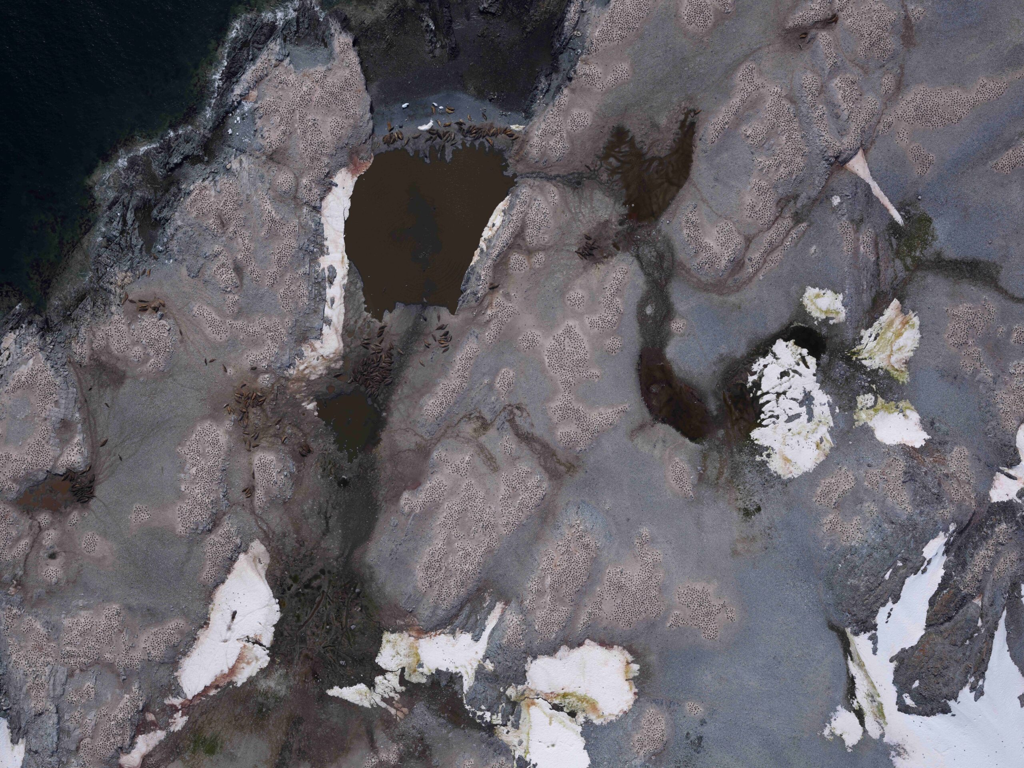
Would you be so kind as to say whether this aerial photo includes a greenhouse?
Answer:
No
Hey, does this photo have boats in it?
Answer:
No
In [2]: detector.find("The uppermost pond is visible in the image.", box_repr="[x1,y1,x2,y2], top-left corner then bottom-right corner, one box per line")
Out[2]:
[608,114,694,220]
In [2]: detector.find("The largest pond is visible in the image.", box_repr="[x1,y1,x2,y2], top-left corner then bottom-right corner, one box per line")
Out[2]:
[344,142,517,320]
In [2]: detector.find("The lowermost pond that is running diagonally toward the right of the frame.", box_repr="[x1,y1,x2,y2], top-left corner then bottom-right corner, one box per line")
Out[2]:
[642,350,713,439]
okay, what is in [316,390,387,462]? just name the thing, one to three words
pond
